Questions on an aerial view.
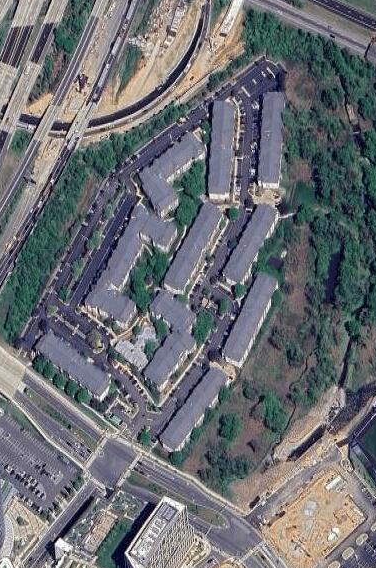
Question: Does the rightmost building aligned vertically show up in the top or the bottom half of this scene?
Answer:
top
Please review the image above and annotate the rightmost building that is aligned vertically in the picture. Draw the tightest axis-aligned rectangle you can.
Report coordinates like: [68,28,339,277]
[257,92,285,189]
